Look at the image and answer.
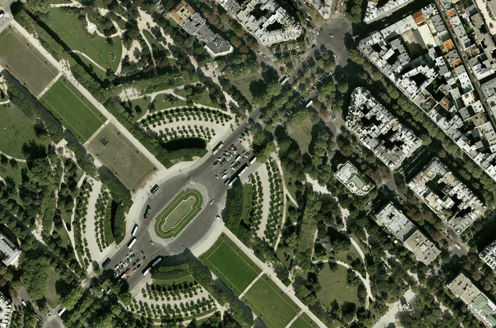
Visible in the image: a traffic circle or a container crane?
traffic circle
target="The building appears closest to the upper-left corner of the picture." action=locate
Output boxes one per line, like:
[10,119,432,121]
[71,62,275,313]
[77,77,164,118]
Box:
[170,0,195,28]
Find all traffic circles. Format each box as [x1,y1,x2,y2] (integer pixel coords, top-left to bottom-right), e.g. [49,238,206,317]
[121,162,234,261]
